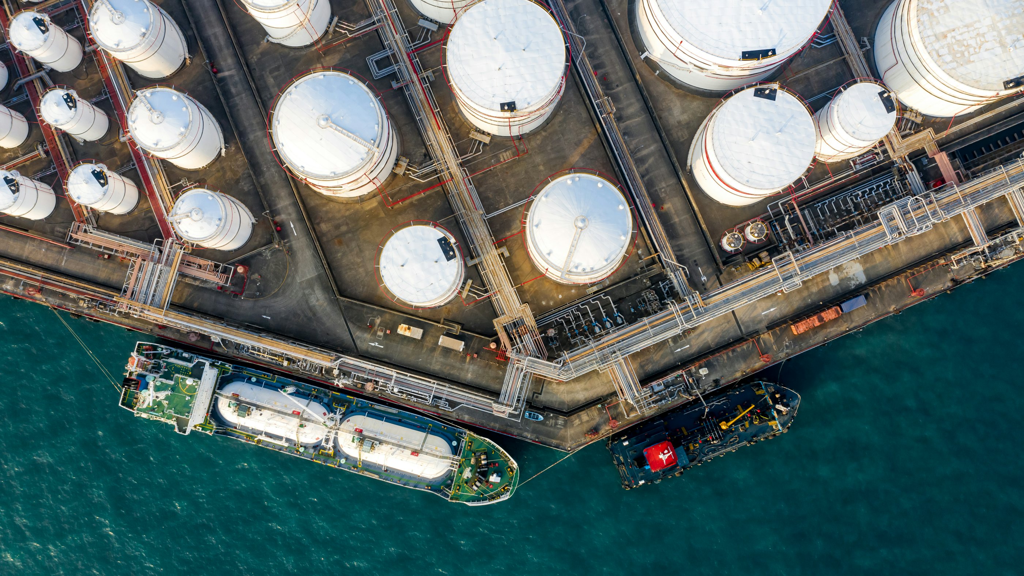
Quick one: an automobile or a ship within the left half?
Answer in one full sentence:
What appears within the left half is a ship.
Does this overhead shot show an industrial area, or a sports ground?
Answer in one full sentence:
This looks like an industrial area.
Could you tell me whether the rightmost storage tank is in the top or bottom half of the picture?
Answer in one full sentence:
You can find the rightmost storage tank in the top half.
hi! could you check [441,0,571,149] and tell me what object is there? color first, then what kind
white storage tank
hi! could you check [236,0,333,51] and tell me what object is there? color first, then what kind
white storage tank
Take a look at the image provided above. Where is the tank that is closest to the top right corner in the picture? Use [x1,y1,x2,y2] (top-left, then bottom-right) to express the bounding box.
[869,0,1024,133]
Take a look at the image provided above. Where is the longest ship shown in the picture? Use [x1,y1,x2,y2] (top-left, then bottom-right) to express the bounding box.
[116,341,520,506]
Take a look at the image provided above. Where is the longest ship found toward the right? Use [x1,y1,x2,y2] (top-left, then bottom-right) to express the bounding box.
[605,381,802,491]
